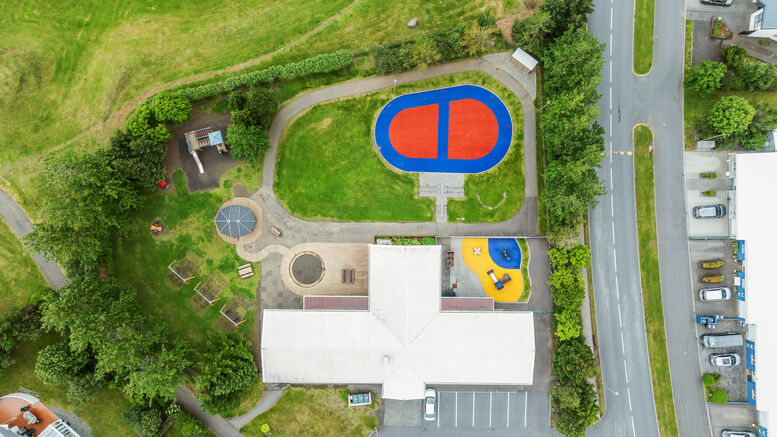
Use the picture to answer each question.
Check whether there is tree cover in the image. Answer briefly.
Yes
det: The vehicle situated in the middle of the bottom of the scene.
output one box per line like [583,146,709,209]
[423,388,438,421]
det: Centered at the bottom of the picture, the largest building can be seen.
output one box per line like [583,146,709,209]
[260,244,536,400]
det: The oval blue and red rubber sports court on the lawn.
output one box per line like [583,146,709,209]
[374,84,513,173]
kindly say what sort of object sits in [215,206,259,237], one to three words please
gazebo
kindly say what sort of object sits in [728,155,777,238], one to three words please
house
